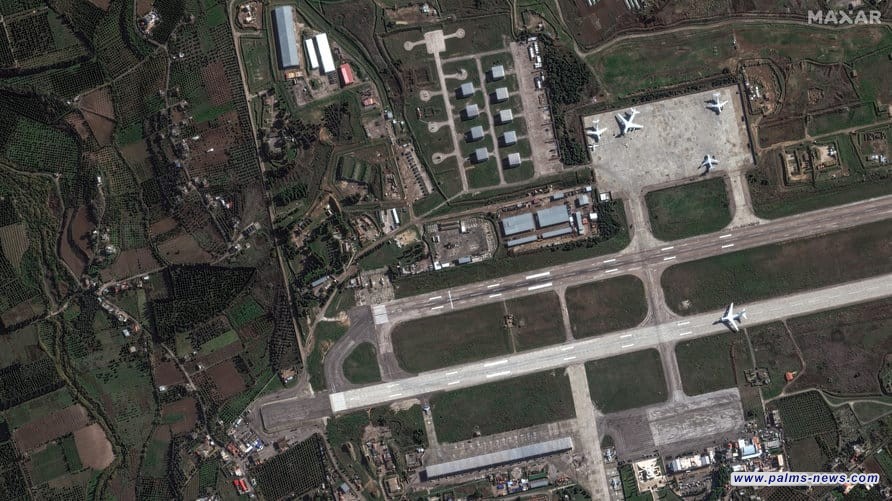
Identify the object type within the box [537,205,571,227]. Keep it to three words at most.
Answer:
building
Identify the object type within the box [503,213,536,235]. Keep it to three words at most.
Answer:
building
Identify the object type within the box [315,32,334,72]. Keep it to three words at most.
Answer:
shed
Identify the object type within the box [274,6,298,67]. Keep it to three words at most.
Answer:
barn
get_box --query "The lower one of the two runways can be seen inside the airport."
[329,275,892,412]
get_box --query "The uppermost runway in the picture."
[372,195,892,324]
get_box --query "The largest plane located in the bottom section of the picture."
[722,301,747,328]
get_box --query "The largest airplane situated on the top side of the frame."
[618,107,645,133]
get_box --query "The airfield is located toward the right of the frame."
[238,20,892,501]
